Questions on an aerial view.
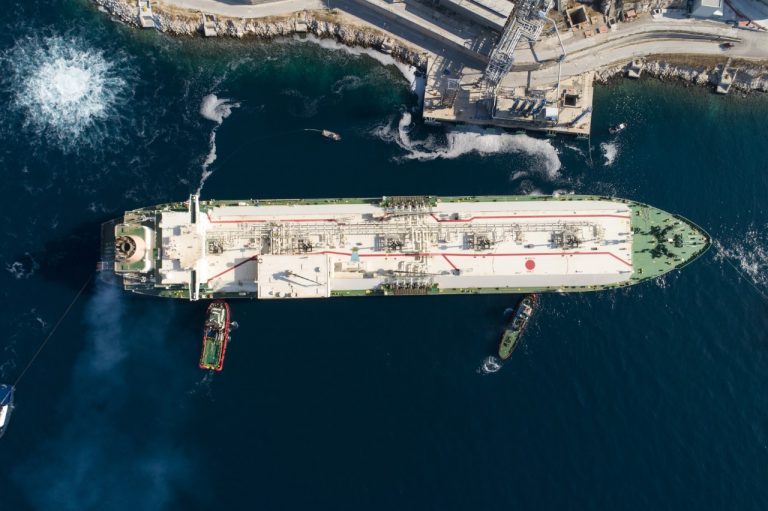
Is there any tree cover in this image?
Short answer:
No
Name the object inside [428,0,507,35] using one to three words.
building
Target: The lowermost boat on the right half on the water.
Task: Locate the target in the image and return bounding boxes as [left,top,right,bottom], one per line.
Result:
[500,295,534,359]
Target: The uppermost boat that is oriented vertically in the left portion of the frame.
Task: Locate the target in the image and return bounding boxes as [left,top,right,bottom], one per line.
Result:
[200,301,229,371]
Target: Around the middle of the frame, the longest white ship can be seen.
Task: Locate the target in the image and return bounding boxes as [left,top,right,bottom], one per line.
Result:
[92,194,714,300]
